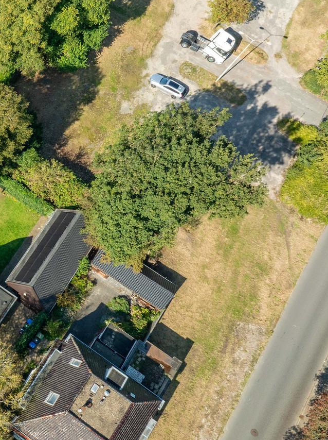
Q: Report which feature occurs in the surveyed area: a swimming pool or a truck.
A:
truck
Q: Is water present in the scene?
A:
No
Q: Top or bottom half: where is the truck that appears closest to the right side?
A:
top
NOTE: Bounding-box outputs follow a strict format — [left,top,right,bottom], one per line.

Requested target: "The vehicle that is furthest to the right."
[181,27,242,66]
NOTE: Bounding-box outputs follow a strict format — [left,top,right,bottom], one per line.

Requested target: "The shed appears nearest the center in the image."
[86,242,177,313]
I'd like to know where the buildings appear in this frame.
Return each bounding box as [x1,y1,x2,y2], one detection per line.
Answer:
[86,242,177,313]
[4,208,95,314]
[10,334,163,440]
